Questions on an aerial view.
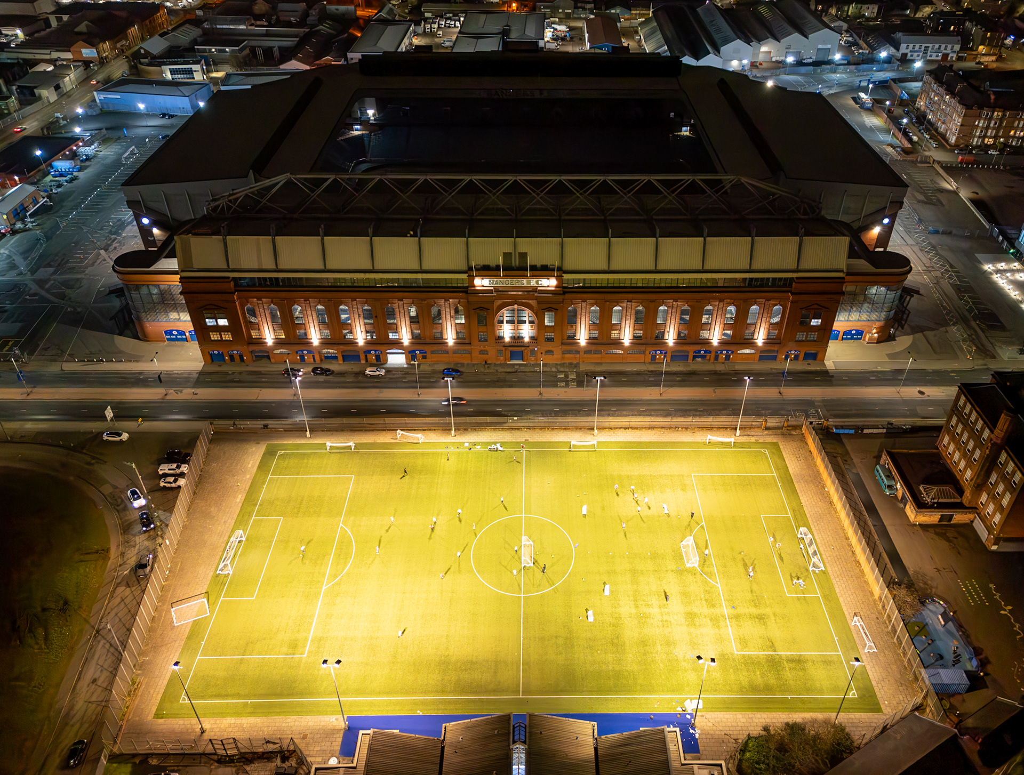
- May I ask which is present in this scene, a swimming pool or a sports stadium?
sports stadium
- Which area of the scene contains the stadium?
top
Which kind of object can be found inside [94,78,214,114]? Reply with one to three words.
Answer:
building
